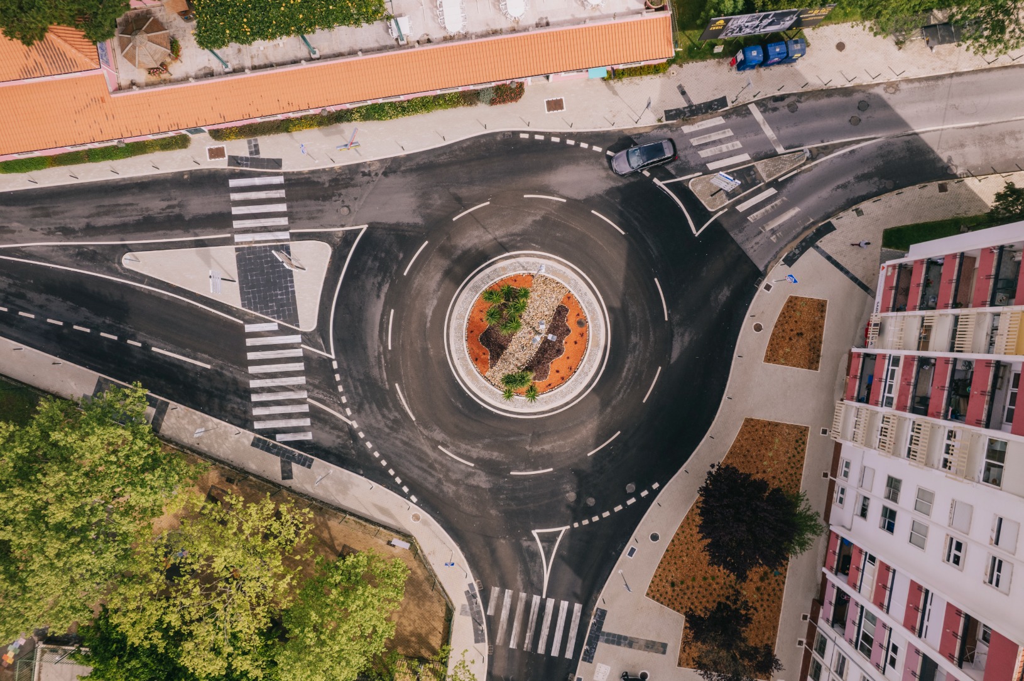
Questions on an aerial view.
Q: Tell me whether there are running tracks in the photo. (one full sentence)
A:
No, no running track can be seen from above.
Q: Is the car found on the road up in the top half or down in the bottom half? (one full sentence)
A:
The top half of the photo is where the car found on the road is.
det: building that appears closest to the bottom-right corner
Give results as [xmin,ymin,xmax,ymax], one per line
[800,221,1024,681]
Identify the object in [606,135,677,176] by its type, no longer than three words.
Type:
car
